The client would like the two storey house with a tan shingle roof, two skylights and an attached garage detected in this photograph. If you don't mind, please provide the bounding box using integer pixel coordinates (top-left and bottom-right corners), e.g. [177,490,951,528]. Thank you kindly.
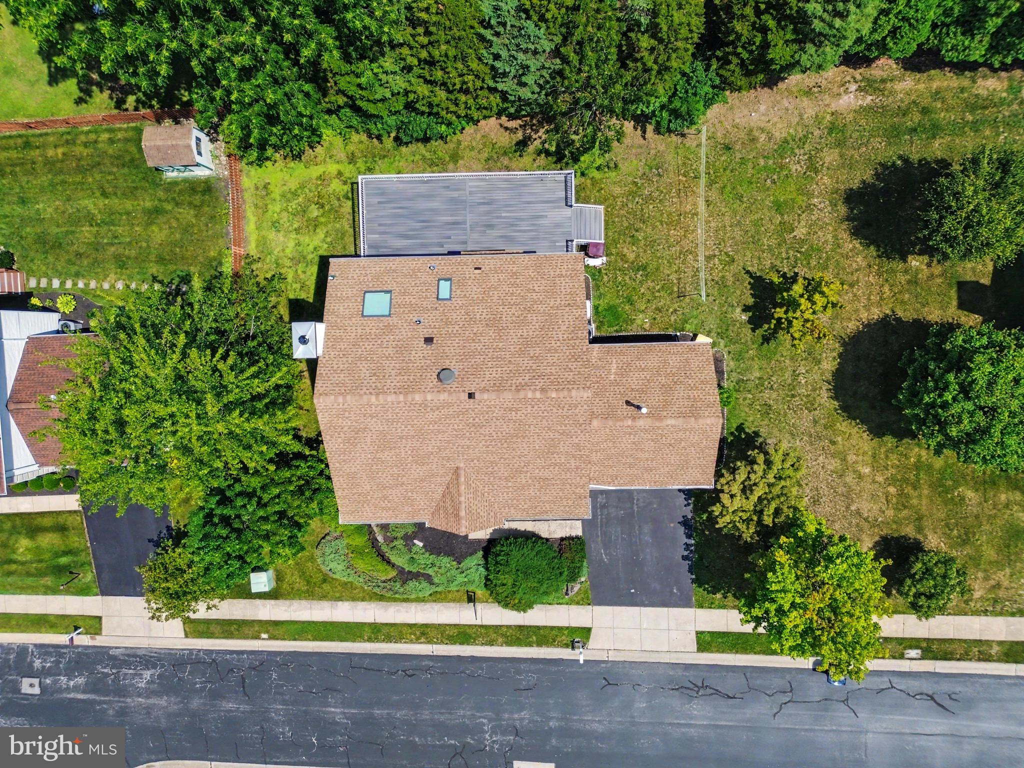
[293,250,724,535]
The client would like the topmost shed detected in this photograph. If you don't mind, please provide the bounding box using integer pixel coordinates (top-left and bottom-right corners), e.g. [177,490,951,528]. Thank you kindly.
[140,124,218,181]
